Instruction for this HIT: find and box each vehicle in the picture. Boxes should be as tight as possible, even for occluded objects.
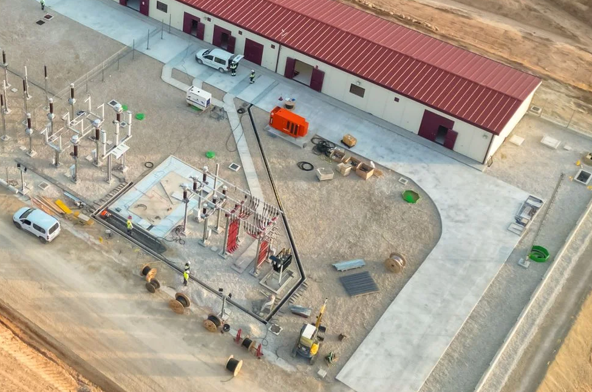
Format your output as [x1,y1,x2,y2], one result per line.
[14,205,63,246]
[291,303,331,360]
[196,44,245,72]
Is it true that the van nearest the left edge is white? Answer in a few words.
Yes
